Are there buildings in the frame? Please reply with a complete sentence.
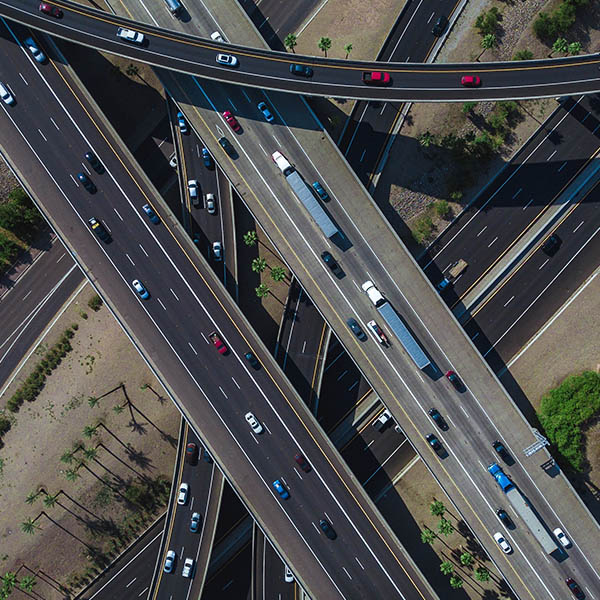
No, the picture doesn't show any building.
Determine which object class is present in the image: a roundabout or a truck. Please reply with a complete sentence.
The image shows a truck.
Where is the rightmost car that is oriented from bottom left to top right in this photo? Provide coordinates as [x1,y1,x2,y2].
[541,234,560,254]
